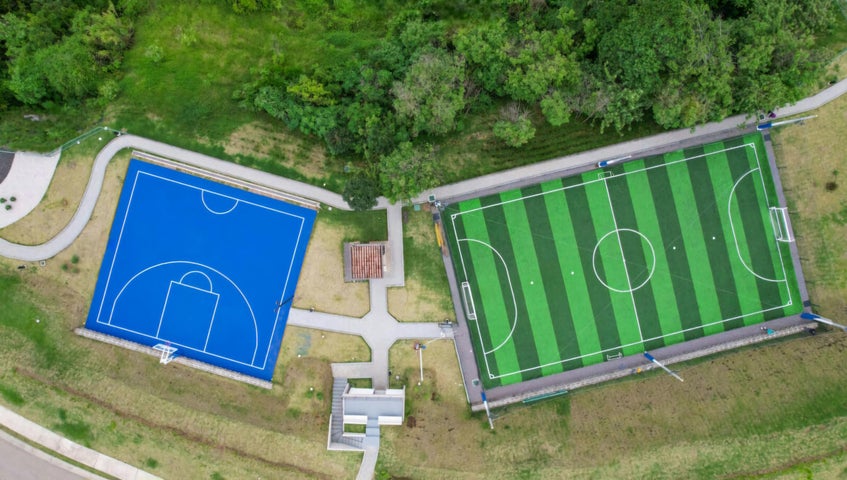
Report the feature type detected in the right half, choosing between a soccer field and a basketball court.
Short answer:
soccer field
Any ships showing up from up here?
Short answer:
No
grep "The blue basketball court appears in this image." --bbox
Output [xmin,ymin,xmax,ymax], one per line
[84,158,317,383]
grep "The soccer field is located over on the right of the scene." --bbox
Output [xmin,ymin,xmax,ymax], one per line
[442,133,803,389]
